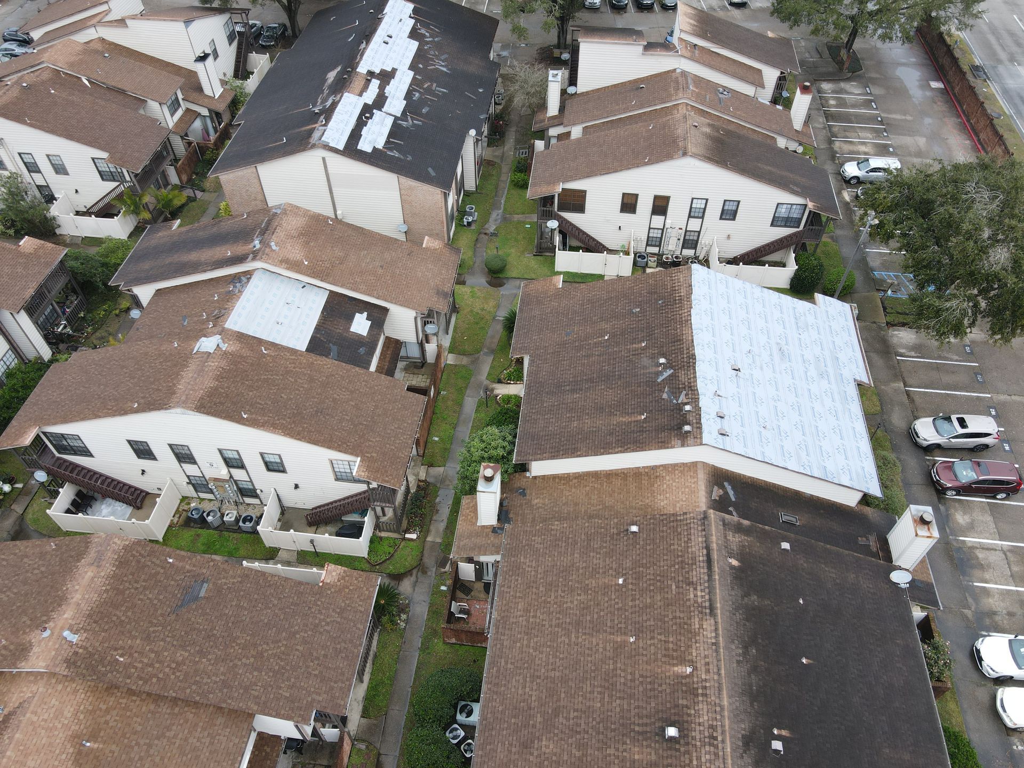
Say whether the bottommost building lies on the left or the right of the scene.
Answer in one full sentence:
The bottommost building is on the left side of the image.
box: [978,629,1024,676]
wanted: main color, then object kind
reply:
white car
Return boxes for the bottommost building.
[0,535,399,768]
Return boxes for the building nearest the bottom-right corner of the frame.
[442,264,956,768]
